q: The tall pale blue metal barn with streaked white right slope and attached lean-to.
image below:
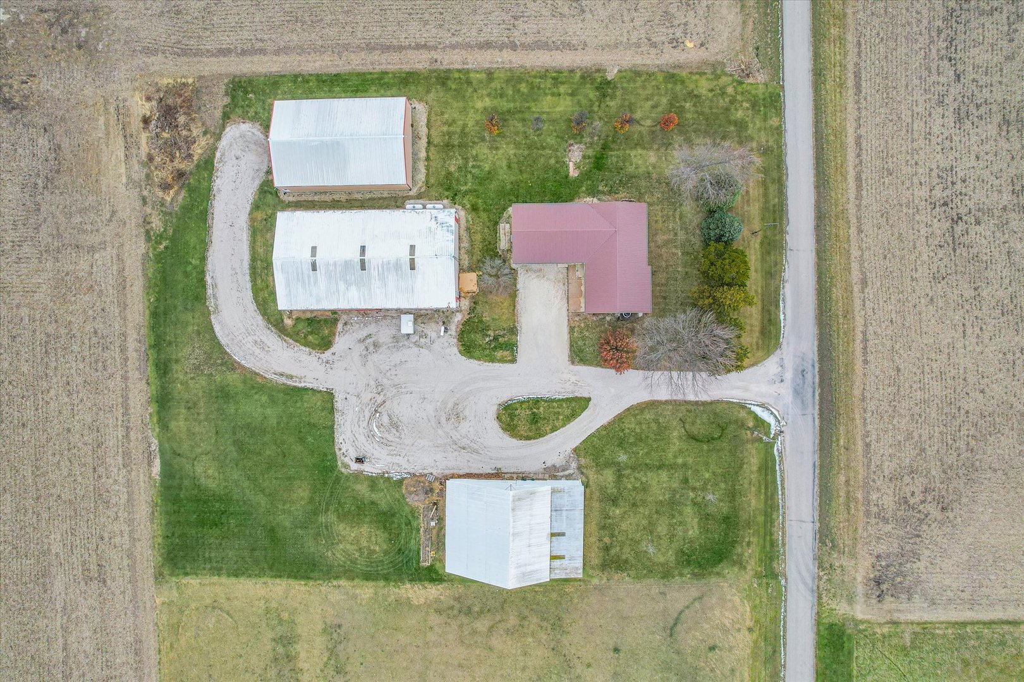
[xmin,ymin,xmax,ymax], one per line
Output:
[446,478,584,590]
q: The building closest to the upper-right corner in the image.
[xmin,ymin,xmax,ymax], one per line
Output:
[511,200,652,313]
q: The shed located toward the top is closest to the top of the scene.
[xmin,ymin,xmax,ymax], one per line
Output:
[268,97,412,194]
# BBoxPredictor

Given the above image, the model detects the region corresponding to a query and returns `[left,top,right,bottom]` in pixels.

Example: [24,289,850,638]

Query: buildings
[268,97,412,194]
[446,478,584,590]
[273,209,460,311]
[511,200,652,313]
